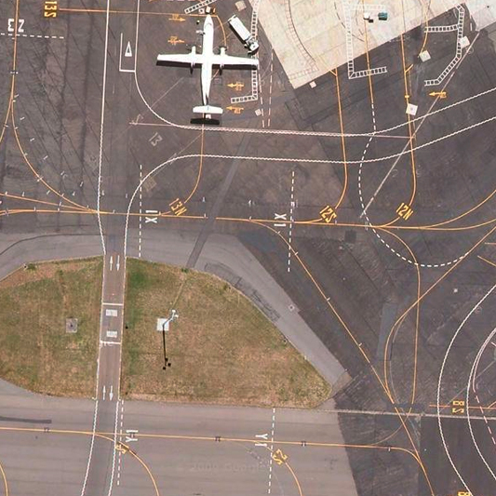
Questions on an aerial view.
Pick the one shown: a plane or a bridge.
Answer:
plane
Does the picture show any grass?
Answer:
Yes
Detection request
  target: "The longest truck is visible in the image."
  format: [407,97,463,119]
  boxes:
[229,14,259,50]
